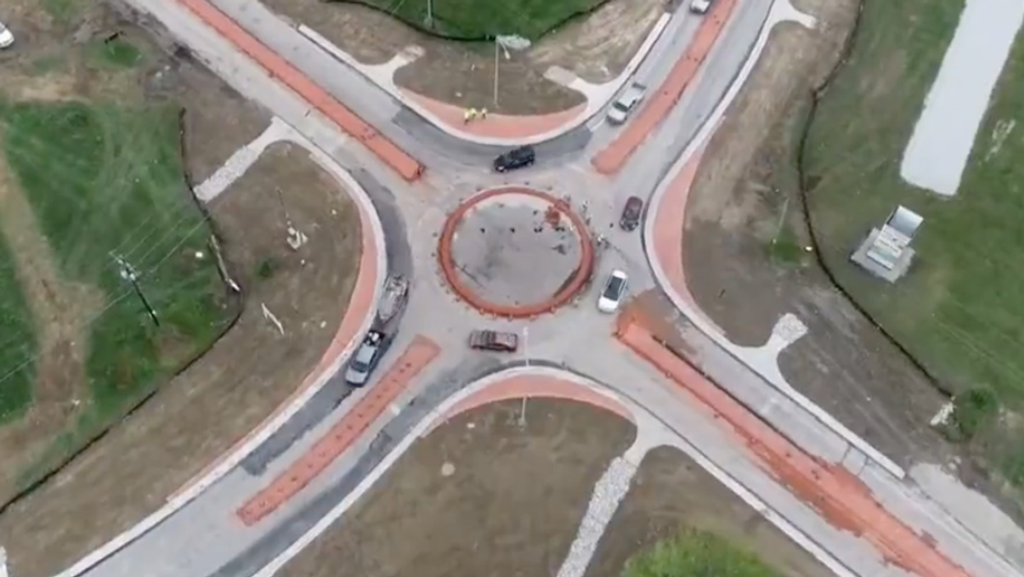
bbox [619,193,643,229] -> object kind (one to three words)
car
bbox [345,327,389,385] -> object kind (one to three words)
truck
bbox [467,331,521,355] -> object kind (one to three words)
truck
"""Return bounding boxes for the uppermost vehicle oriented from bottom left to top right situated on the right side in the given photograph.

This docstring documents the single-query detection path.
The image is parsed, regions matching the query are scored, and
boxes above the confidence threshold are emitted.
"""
[611,78,651,124]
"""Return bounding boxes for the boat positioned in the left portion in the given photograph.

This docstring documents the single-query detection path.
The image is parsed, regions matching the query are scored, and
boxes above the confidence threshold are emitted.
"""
[374,273,408,324]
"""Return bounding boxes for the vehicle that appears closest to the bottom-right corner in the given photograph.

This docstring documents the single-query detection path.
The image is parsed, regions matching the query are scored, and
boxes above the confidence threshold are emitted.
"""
[600,269,627,311]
